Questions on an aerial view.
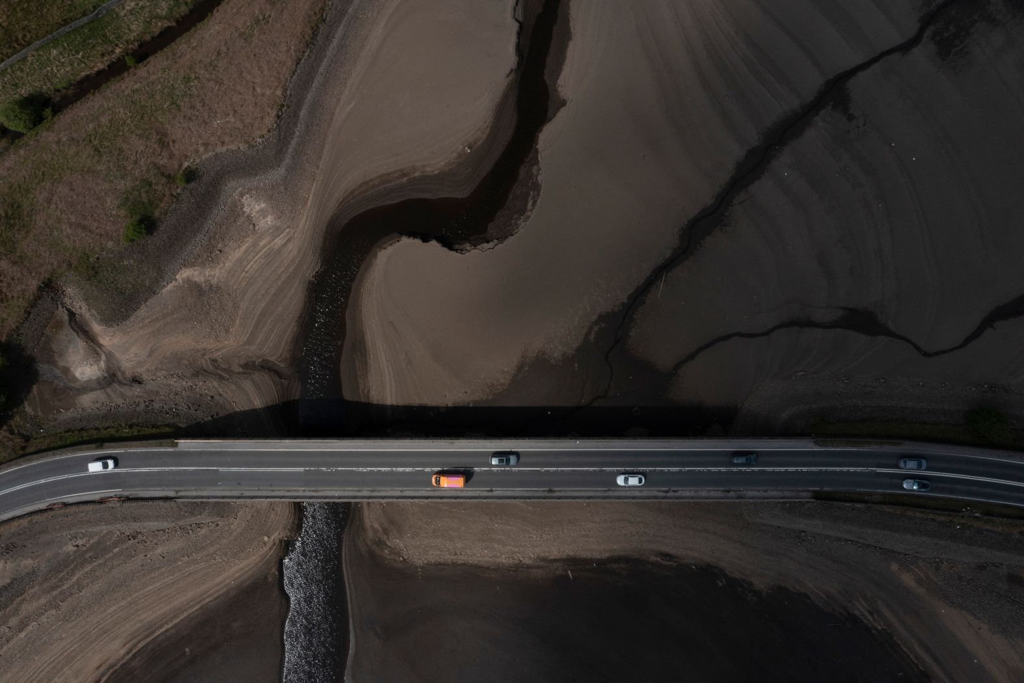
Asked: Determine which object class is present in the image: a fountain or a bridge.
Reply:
bridge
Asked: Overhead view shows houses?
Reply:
No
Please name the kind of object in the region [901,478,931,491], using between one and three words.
vehicle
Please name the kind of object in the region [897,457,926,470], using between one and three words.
vehicle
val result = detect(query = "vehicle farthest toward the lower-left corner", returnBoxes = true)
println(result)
[86,458,118,471]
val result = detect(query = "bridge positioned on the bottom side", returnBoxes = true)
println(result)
[168,434,814,503]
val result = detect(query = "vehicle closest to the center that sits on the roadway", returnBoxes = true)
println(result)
[490,453,518,466]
